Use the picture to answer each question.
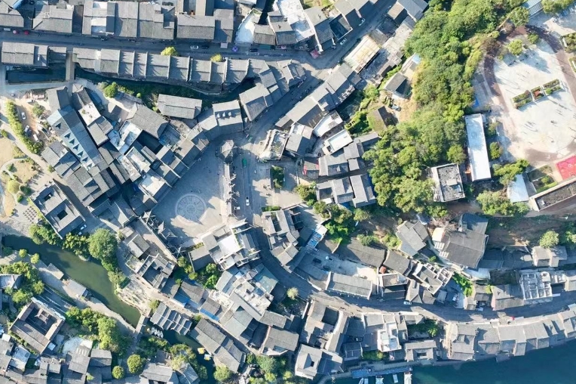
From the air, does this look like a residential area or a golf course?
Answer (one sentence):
The area seen from above is a residential area.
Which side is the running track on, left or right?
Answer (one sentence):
You can find the running track on the right side of the picture.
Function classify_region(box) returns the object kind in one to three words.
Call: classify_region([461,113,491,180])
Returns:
building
